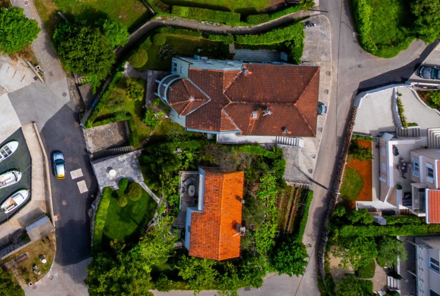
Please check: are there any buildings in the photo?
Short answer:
Yes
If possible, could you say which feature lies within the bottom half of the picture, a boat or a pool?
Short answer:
boat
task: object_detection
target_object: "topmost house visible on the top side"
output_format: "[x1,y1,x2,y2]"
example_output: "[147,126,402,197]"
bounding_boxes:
[152,50,320,144]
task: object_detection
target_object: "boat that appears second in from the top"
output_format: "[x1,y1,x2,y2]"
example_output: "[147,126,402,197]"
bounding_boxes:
[0,165,30,190]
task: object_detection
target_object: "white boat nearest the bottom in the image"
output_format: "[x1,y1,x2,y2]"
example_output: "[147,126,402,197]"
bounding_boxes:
[0,191,30,221]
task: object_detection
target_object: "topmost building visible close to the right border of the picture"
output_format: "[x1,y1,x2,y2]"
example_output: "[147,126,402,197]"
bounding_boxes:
[377,135,440,224]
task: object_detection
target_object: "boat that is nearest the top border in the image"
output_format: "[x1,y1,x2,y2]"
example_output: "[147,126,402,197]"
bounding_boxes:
[0,142,18,163]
